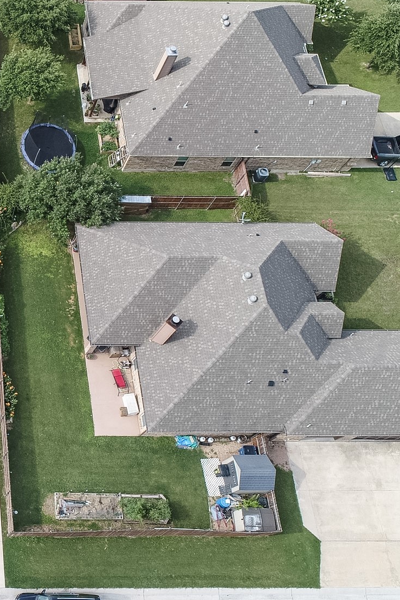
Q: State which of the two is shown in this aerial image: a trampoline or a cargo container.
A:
trampoline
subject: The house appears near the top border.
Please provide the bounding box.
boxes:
[81,0,382,175]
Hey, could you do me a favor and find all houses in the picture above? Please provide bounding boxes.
[75,211,400,442]
[81,0,382,175]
